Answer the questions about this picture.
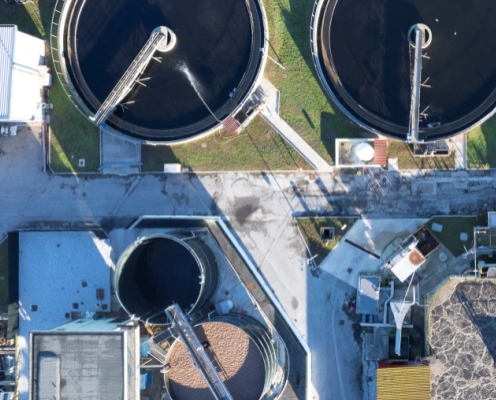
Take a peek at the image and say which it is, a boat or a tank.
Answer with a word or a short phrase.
tank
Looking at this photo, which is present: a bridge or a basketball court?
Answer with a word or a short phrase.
bridge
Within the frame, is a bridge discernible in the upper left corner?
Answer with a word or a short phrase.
Yes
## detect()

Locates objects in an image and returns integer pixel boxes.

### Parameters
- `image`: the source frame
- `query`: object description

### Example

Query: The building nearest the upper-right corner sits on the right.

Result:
[335,139,388,167]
